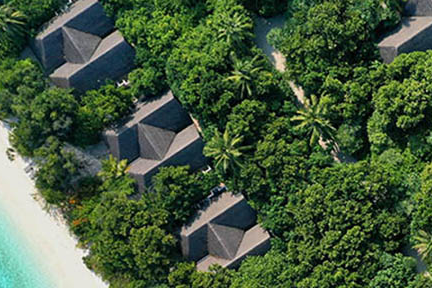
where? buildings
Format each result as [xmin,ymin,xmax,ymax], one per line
[371,0,432,82]
[28,0,145,105]
[174,190,287,288]
[104,93,219,198]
